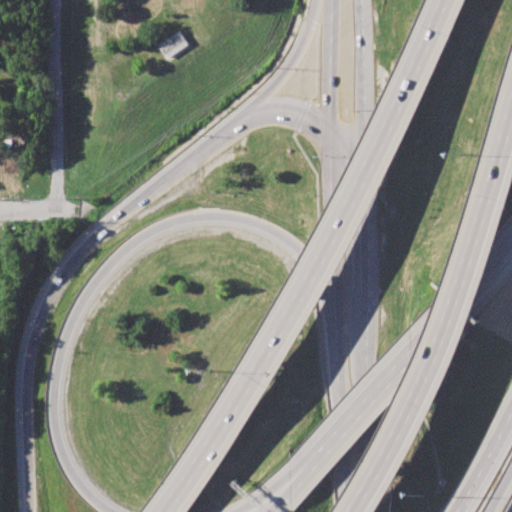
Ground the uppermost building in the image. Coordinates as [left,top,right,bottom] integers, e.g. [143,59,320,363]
[158,32,190,66]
